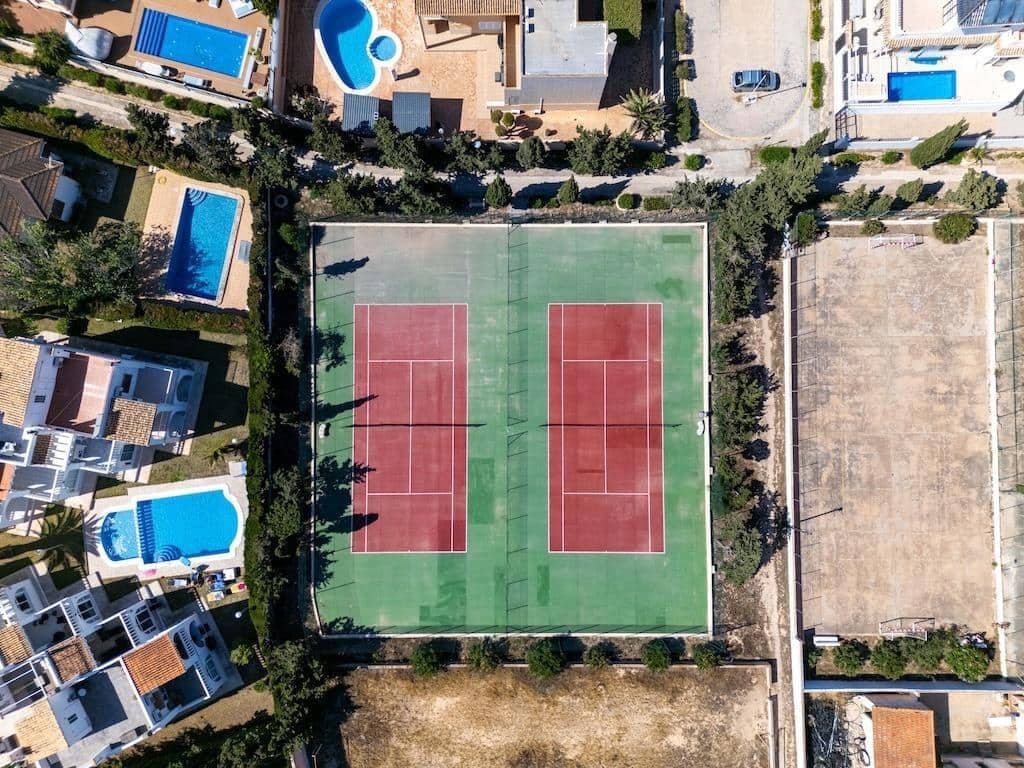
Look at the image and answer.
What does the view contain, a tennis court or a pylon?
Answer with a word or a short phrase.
tennis court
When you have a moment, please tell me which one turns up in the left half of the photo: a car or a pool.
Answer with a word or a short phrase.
pool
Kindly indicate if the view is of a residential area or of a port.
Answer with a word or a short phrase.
residential area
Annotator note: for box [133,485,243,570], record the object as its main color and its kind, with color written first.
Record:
blue swimming pool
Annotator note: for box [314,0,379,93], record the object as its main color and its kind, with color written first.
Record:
blue swimming pool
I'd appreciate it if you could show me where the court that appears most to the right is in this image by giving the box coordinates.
[1000,224,1024,678]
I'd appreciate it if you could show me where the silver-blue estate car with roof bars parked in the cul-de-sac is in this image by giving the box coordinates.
[732,68,778,93]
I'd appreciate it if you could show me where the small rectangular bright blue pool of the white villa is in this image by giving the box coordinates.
[884,66,960,104]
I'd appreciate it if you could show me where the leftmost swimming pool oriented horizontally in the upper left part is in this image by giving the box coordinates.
[133,6,252,78]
